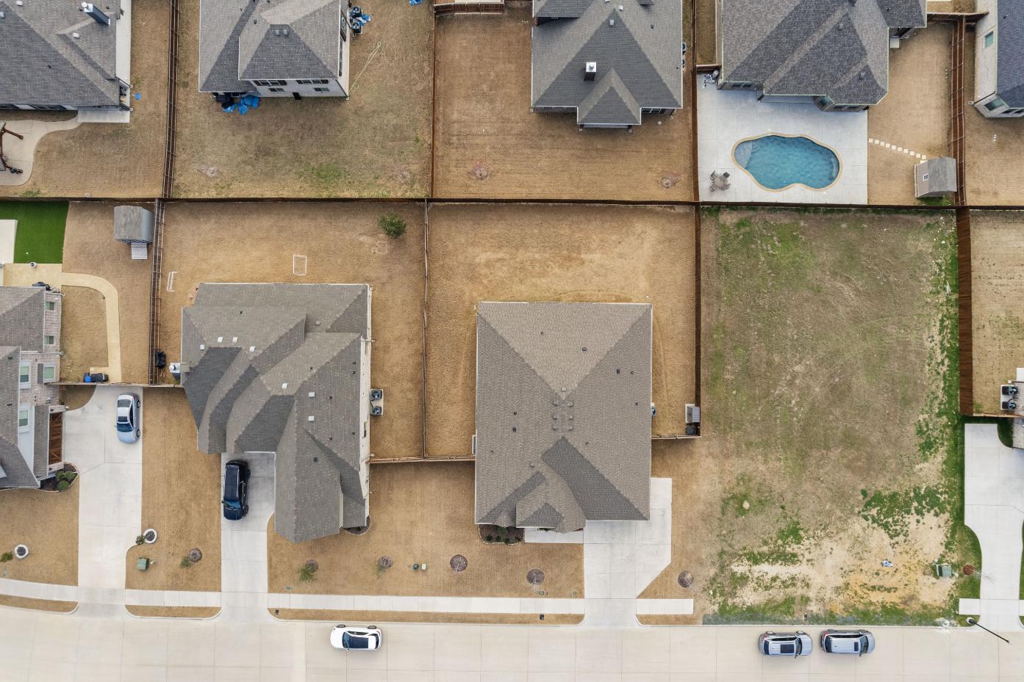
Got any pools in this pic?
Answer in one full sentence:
Yes, there's a pool down there.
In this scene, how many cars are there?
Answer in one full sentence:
My tally gives 5 cars in this view.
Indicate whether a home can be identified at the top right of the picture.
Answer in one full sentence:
Yes, a home appears at the top right of the picture.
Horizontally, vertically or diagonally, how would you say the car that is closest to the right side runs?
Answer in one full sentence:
The car that is closest to the right side has been laid out horizontally relative to the frame.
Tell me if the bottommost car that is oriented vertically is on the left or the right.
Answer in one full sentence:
You can find the bottommost car that is oriented vertically on the left side of the picture.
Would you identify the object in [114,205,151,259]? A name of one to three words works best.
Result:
shed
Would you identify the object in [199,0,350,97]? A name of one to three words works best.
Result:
house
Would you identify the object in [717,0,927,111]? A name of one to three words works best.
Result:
house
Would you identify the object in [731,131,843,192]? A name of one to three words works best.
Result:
swimming pool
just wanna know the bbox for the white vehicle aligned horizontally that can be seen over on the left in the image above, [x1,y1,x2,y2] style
[332,625,383,650]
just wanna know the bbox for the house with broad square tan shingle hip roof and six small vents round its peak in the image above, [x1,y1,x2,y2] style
[475,301,653,533]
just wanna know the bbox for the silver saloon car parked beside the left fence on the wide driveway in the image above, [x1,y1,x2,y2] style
[113,394,140,445]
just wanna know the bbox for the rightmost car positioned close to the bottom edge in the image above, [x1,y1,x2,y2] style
[819,629,873,657]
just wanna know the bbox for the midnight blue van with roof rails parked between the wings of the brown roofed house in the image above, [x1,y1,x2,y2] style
[222,460,250,519]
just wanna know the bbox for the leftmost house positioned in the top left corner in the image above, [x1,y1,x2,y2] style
[0,0,132,111]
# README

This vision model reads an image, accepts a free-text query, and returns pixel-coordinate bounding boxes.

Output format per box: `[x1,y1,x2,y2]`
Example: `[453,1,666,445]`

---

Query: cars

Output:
[759,631,811,658]
[332,625,383,650]
[222,460,250,519]
[113,394,140,445]
[819,629,873,657]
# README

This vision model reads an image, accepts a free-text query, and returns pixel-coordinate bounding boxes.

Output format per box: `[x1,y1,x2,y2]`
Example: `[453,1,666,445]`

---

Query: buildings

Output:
[199,0,350,97]
[0,286,67,488]
[530,0,683,132]
[475,301,653,533]
[114,205,151,259]
[974,0,1024,117]
[717,0,927,111]
[916,157,956,195]
[168,282,374,543]
[0,0,132,111]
